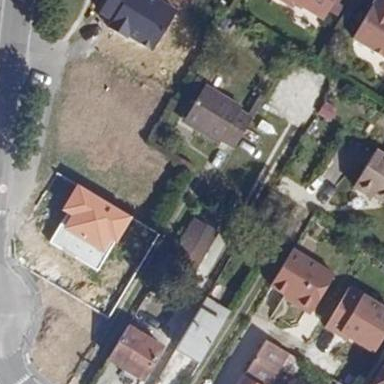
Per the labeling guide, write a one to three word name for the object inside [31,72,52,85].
vehicle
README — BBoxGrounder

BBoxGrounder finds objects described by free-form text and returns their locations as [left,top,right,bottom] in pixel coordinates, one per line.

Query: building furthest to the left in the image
[62,184,132,253]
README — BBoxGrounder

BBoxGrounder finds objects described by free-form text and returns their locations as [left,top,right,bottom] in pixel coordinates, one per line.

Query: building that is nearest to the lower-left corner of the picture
[109,324,164,380]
